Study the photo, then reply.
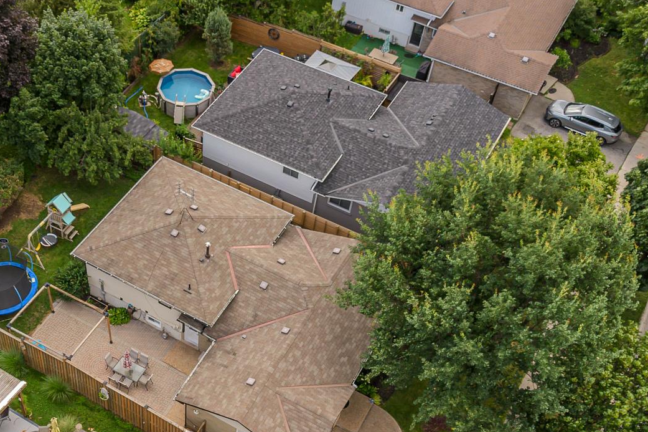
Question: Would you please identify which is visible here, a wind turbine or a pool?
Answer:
pool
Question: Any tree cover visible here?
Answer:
Yes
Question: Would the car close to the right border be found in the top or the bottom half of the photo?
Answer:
top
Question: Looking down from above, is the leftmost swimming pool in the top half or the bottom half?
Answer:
top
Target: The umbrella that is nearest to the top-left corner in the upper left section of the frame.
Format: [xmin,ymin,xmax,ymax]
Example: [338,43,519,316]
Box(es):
[149,61,174,81]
